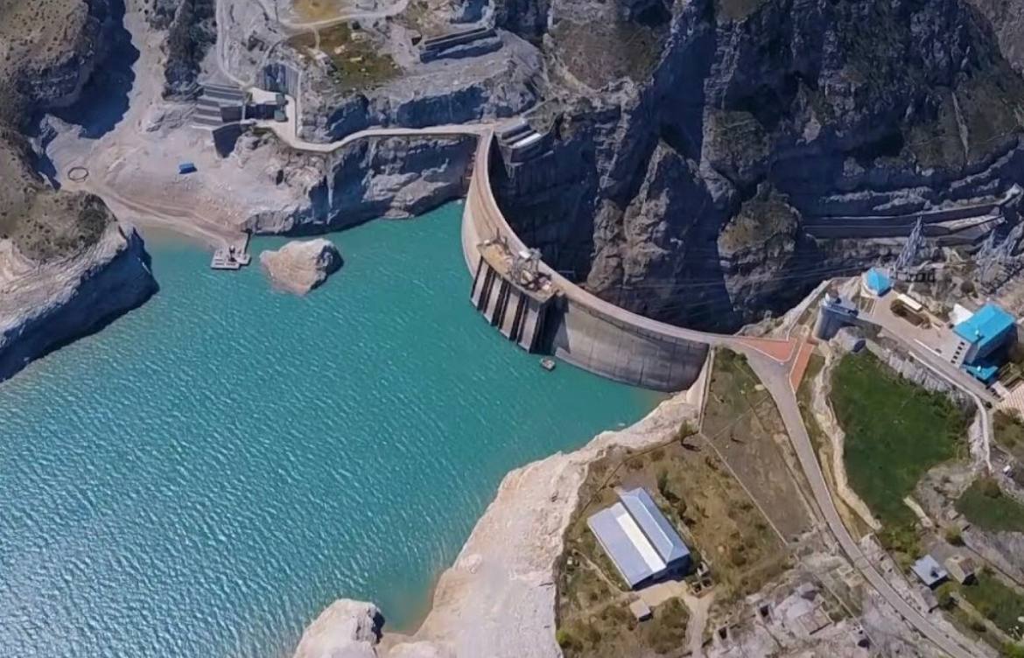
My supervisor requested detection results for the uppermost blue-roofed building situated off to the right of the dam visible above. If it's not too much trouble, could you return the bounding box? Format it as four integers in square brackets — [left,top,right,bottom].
[861,273,893,297]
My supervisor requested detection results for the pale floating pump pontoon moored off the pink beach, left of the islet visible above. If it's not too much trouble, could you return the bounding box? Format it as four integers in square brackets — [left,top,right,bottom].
[211,231,252,269]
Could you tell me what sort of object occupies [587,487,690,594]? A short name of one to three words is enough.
building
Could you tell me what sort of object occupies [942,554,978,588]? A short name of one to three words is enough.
house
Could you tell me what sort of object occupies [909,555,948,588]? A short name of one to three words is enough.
shed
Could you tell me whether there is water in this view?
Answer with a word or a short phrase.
Yes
